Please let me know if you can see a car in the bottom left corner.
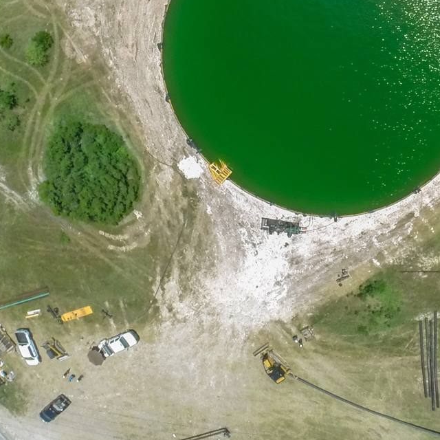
Yes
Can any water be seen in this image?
Yes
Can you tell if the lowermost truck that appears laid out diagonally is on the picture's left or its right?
left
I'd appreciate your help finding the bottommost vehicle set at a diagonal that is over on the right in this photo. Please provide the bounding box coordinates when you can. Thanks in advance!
[256,347,293,377]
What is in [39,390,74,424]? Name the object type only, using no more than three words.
truck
